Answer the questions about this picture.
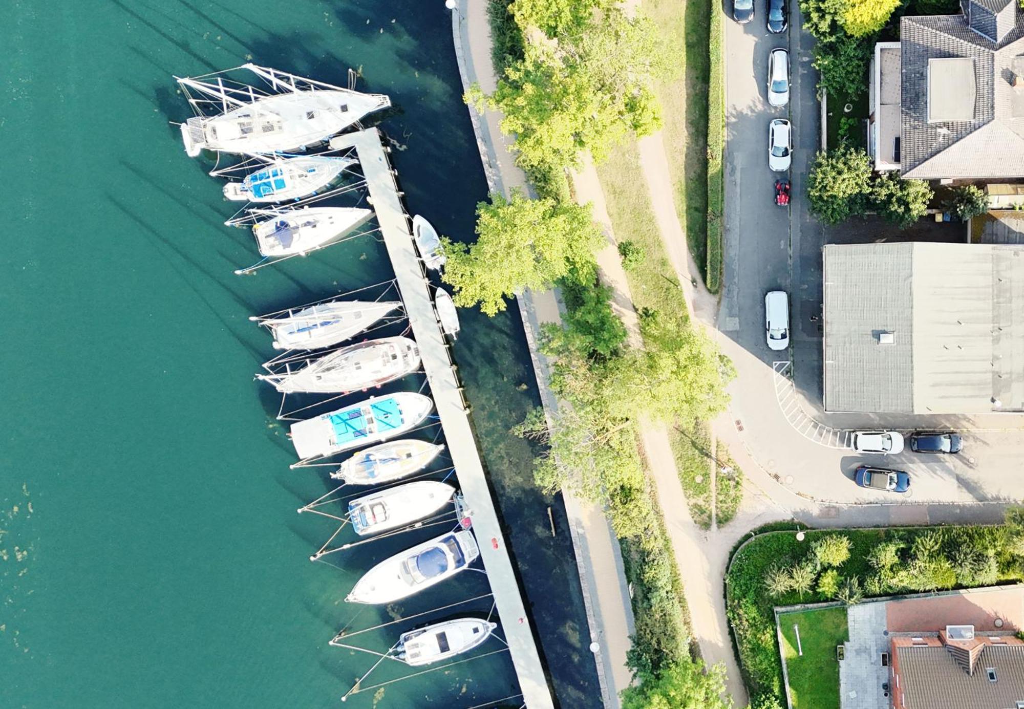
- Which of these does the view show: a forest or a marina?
marina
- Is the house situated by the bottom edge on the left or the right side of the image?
right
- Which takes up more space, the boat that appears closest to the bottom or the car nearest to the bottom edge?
the boat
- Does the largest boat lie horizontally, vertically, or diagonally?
horizontally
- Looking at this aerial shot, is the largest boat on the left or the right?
left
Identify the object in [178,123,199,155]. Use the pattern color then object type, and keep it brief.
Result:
white boat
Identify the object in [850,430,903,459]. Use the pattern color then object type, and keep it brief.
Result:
white car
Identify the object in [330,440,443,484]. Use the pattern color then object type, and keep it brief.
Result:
white boat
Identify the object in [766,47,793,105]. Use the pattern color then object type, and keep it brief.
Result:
white car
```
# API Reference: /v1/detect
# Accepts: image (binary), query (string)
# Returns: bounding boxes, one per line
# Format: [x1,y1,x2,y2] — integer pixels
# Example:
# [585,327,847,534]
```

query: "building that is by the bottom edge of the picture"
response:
[891,625,1024,709]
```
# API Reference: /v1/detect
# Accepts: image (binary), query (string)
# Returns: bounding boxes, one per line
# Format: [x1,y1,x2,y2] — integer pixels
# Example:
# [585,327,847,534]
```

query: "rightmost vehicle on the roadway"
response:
[910,432,963,458]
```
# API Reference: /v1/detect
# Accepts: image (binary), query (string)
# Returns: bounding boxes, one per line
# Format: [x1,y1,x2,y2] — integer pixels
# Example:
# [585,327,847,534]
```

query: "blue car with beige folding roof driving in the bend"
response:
[854,466,910,495]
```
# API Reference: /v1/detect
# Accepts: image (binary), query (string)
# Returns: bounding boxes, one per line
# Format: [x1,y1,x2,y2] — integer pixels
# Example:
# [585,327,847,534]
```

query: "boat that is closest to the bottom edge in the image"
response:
[391,617,497,666]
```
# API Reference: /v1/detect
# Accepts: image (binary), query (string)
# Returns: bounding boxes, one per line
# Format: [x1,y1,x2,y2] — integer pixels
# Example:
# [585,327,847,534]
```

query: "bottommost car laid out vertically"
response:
[764,292,792,350]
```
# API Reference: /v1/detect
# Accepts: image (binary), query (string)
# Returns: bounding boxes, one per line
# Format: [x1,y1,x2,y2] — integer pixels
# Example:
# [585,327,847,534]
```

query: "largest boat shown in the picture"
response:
[171,63,391,155]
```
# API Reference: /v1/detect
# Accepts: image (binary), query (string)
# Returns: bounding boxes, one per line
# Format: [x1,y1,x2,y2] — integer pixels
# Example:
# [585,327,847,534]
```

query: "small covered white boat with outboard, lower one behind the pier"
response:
[435,288,461,340]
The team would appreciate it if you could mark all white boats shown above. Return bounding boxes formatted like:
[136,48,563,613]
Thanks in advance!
[247,204,373,257]
[345,482,453,535]
[391,617,497,666]
[330,440,443,484]
[171,63,391,155]
[258,338,425,395]
[221,182,247,199]
[178,123,199,155]
[339,531,478,610]
[435,288,461,340]
[224,149,356,205]
[287,395,433,460]
[413,214,448,273]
